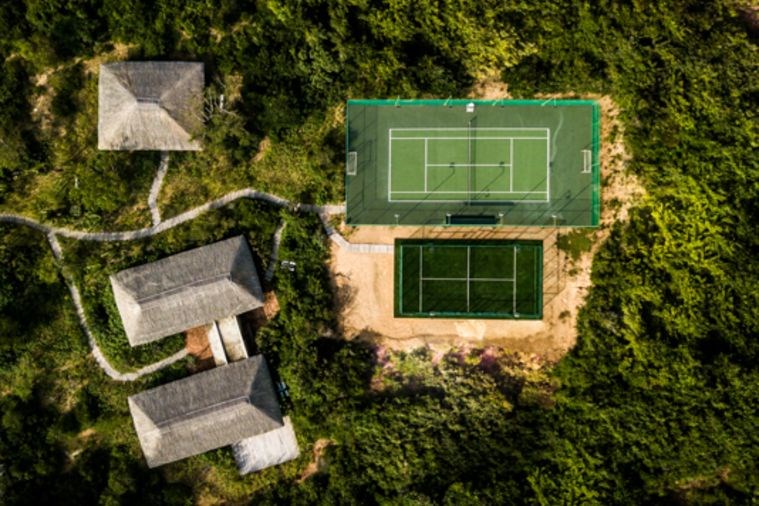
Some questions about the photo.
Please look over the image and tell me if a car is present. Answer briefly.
No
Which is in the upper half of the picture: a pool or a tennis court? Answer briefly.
tennis court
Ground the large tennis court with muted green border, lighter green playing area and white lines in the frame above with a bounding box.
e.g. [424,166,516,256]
[345,104,593,228]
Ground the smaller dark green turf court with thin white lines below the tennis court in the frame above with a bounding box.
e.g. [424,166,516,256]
[394,239,543,319]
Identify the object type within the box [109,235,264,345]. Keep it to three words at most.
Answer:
house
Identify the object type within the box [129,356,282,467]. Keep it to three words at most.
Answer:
house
